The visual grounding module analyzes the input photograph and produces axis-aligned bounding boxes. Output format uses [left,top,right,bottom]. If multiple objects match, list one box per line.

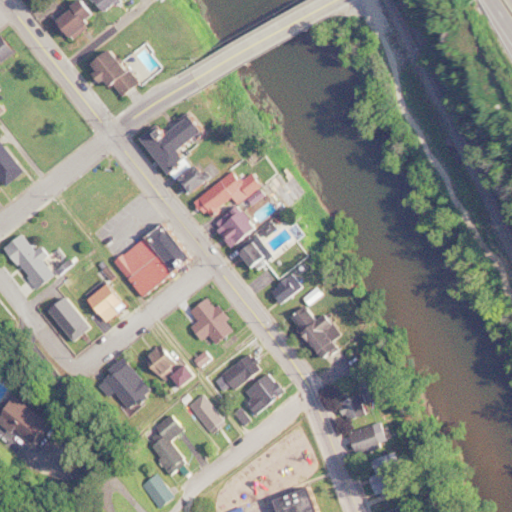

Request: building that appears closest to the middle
[238,236,272,268]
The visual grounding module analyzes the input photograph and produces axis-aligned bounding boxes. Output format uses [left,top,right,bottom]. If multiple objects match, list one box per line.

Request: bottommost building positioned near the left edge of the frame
[0,396,36,438]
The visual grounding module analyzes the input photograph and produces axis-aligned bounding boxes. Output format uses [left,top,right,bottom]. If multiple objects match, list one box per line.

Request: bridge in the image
[186,0,358,93]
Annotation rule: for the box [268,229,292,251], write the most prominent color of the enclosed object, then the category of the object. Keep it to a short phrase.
blue swimming pool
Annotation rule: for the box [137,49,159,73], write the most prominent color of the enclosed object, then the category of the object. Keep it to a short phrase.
white swimming pool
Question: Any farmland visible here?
No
